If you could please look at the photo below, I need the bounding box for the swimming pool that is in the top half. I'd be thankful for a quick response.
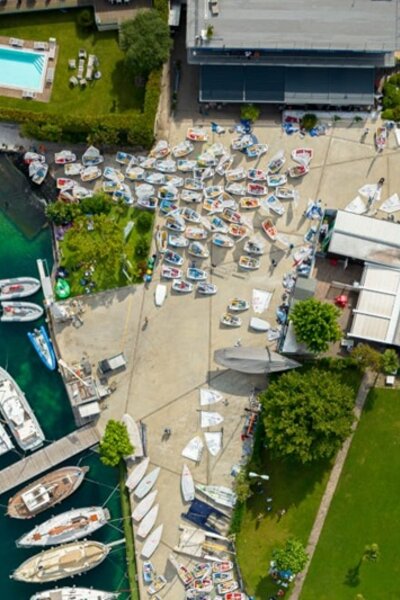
[0,36,59,102]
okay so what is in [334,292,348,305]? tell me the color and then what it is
red umbrella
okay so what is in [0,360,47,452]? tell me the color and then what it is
white boat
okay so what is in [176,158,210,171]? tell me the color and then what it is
white boat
